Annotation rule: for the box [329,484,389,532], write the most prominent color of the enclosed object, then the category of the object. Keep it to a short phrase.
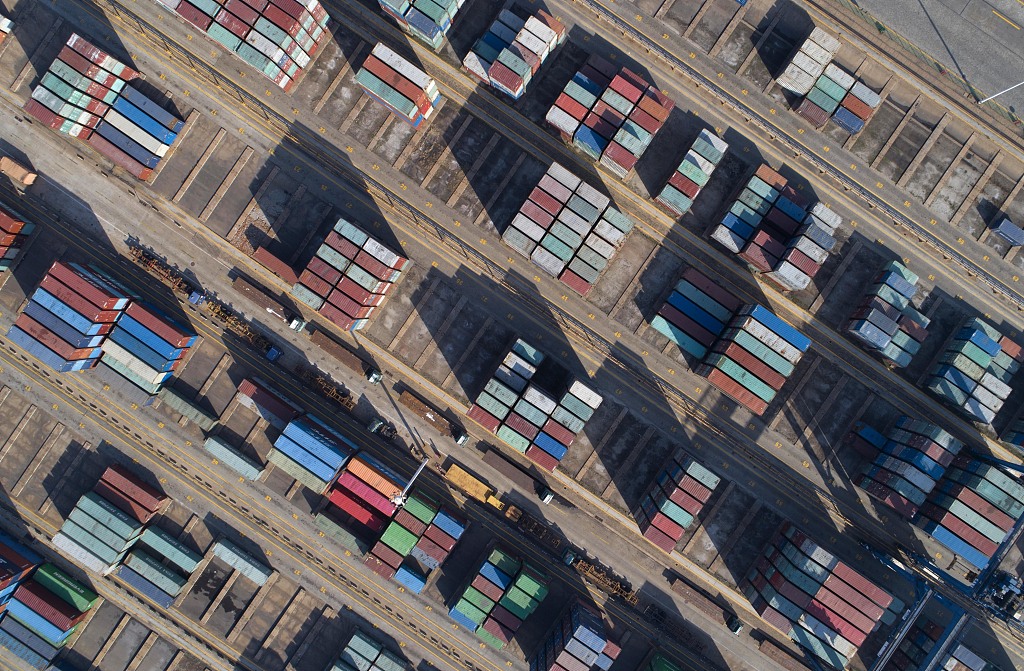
red shipping container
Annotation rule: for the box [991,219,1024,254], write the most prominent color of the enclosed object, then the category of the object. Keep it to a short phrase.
blue shipping container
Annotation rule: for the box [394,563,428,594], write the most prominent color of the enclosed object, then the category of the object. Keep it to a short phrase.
blue shipping container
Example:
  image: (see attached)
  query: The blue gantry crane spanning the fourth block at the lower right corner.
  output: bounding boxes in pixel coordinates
[789,536,972,671]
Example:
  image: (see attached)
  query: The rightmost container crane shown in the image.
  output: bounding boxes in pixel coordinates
[887,440,1024,621]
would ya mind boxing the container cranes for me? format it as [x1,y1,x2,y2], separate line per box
[789,536,972,671]
[887,440,1024,621]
